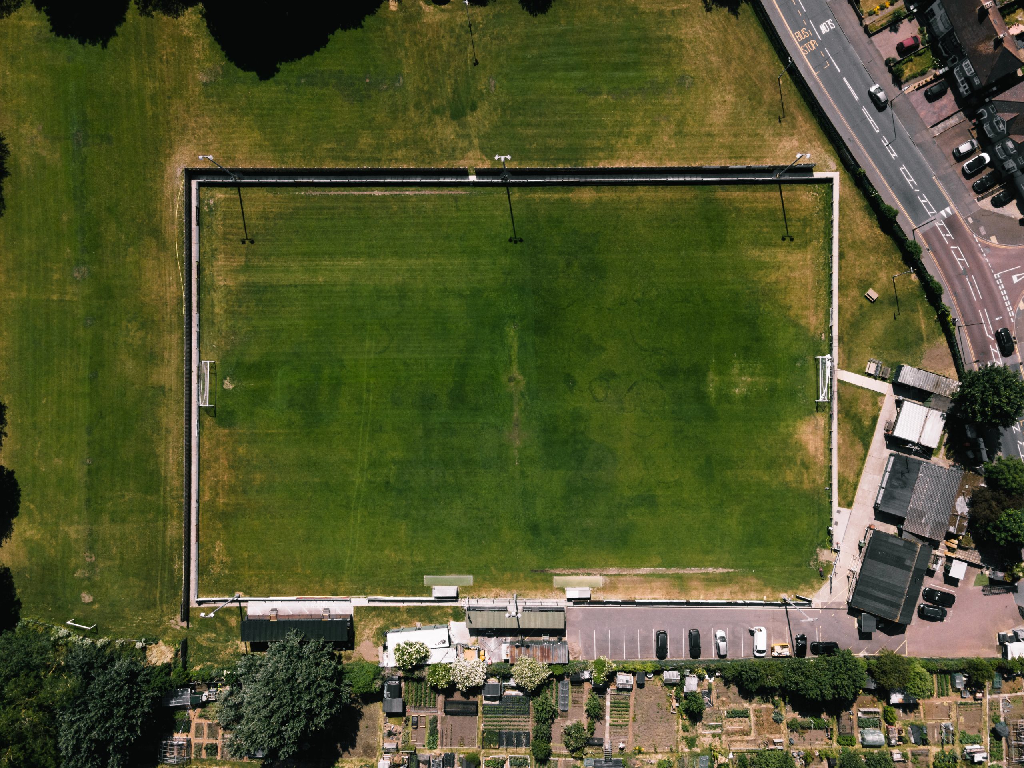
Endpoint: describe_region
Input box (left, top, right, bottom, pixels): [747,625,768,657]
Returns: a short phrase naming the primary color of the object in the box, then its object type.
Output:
white vehicle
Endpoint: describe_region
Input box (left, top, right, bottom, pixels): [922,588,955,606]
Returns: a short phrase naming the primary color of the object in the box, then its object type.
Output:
black car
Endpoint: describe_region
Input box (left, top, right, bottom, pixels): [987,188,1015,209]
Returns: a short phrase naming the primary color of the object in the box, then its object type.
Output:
black car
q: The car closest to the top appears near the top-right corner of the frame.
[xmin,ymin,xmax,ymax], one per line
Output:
[894,37,920,56]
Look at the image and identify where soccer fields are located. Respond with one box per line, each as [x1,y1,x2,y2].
[199,185,832,599]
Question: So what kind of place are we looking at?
sports ground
